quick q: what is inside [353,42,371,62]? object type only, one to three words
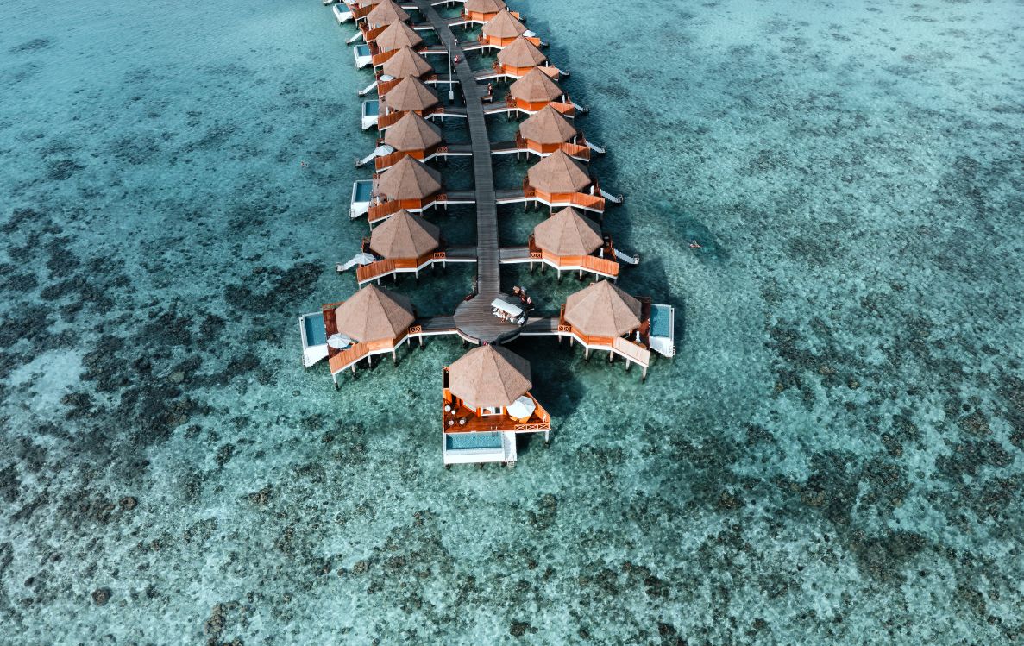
swimming pool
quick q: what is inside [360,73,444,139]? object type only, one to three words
house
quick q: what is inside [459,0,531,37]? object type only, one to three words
house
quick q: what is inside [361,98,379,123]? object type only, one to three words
swimming pool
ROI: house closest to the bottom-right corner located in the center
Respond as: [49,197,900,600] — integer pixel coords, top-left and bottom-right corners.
[556,280,676,387]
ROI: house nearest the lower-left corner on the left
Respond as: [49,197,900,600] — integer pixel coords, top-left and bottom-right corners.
[303,284,424,395]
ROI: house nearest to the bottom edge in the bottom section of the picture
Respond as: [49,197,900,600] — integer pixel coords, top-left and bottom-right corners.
[443,344,554,478]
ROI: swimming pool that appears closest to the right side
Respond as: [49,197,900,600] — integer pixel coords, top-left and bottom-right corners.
[650,303,676,346]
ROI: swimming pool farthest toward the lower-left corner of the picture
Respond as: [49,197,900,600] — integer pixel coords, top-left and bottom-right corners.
[300,311,328,357]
